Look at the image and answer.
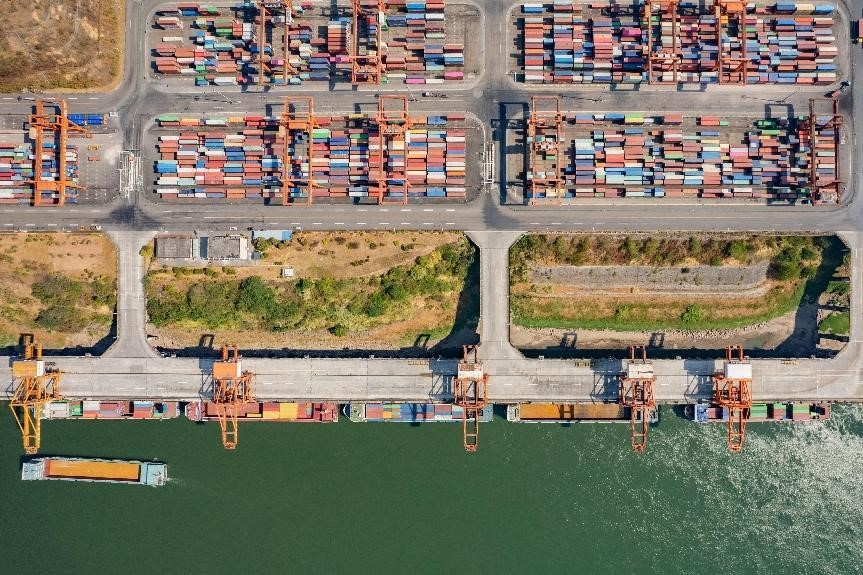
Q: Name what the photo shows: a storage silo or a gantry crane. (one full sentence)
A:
There is a gantry crane in the scene.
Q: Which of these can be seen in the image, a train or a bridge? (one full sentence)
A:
Looking from above, you can make out a bridge.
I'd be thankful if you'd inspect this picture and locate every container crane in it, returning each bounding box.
[375,94,415,207]
[351,0,388,87]
[704,0,748,87]
[9,343,75,451]
[213,343,261,452]
[785,97,843,207]
[28,99,93,208]
[521,95,562,207]
[259,0,302,87]
[606,344,654,453]
[700,345,756,454]
[279,95,325,207]
[448,344,488,453]
[637,0,678,87]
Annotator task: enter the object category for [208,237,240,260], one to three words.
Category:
building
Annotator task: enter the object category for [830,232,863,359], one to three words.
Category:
bridge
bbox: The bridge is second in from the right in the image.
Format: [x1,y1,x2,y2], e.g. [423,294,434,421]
[464,232,527,358]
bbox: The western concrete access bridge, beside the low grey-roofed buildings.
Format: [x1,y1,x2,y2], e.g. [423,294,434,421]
[99,232,162,357]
